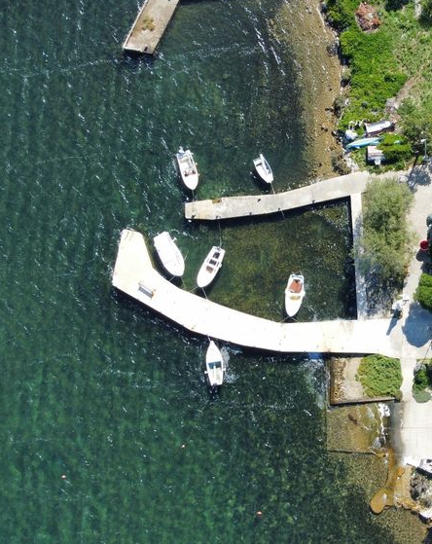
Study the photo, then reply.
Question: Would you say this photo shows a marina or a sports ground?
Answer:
marina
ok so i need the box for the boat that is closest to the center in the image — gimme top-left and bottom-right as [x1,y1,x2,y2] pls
[189,233,226,300]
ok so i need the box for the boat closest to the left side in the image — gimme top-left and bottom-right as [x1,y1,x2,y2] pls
[154,231,185,289]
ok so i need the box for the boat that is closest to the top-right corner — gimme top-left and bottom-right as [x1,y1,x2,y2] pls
[365,119,393,134]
